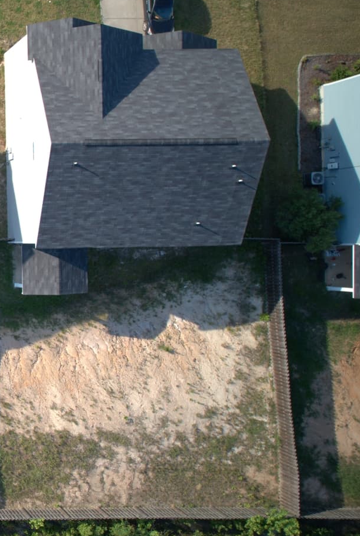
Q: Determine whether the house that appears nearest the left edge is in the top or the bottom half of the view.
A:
top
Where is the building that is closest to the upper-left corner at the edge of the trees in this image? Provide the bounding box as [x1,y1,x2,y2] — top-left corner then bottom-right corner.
[6,17,269,295]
